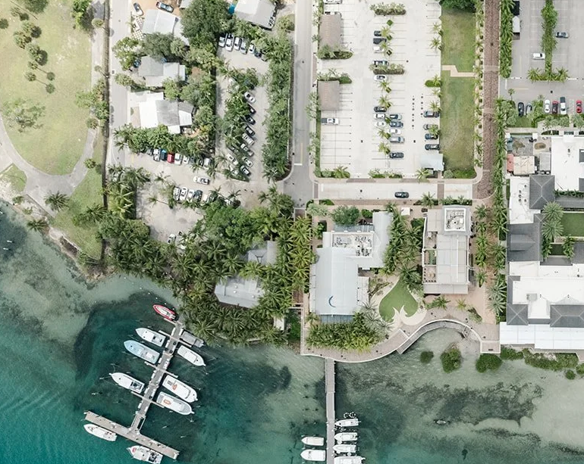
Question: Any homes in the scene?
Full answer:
Yes, you can see a home in this photo.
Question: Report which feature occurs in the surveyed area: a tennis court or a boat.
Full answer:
This aerial view contains a boat.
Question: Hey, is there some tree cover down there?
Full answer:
Yes, tree cover can be seen from above here.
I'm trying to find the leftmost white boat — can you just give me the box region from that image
[83,424,120,443]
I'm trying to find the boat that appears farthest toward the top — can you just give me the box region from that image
[152,304,179,322]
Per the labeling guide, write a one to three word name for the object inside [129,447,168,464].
boat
